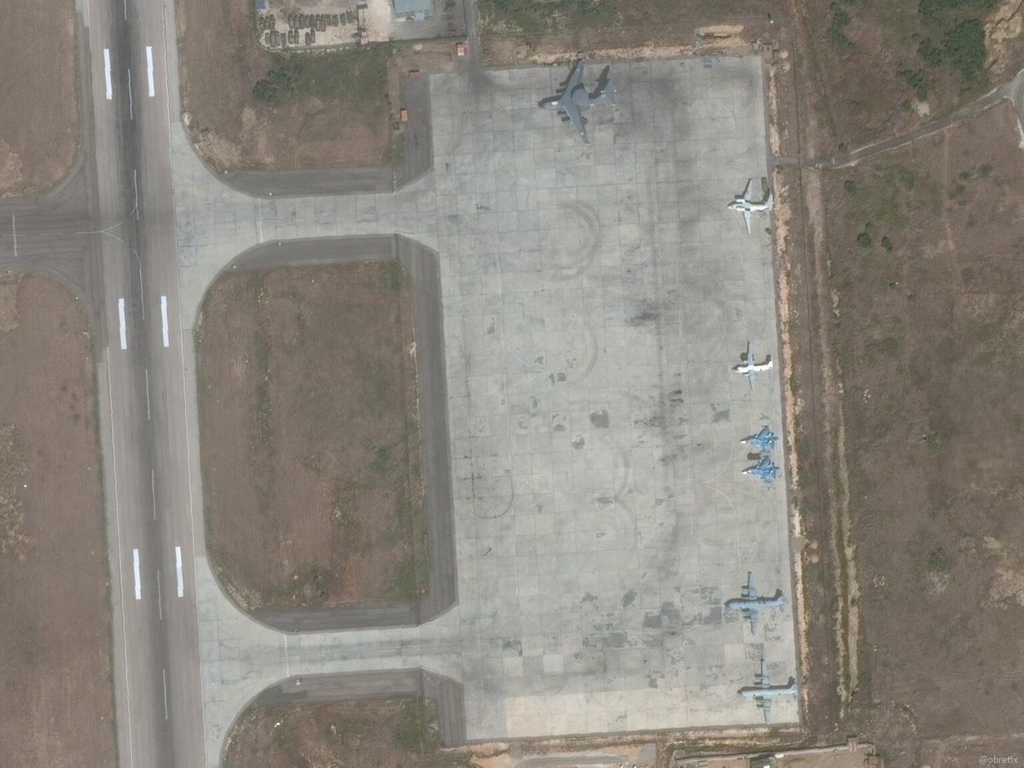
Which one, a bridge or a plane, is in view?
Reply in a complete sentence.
Of the two, only a plane appears.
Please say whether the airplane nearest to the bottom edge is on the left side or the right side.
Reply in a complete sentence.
The airplane nearest to the bottom edge is on the right side of the image.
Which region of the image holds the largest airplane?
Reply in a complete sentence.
The largest airplane sits in the top section of the image.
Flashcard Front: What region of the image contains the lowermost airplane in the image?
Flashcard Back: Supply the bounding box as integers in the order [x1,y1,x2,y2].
[737,659,797,724]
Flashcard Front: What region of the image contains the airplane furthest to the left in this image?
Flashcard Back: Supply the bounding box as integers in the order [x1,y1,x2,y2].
[540,60,616,144]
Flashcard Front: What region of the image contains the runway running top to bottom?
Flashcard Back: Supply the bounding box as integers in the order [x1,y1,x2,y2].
[88,0,206,768]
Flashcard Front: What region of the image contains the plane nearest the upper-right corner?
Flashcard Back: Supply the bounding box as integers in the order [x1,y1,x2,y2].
[727,179,772,232]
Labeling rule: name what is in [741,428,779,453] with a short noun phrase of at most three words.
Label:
airplane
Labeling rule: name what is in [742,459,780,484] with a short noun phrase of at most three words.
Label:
airplane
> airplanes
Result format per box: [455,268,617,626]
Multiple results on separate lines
[724,572,784,636]
[540,60,616,144]
[733,344,773,394]
[742,459,780,484]
[727,179,772,232]
[741,428,779,453]
[737,659,797,724]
